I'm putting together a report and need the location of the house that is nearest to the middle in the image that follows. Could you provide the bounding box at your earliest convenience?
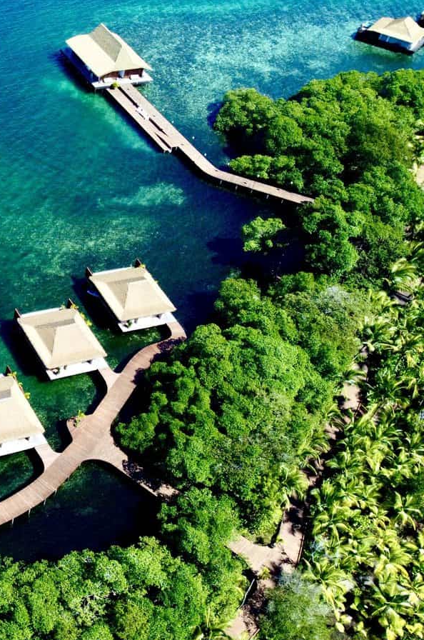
[84,262,175,338]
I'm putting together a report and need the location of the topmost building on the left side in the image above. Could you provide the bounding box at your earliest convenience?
[64,25,154,94]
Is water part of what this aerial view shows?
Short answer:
Yes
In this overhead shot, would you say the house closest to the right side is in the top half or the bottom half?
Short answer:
top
